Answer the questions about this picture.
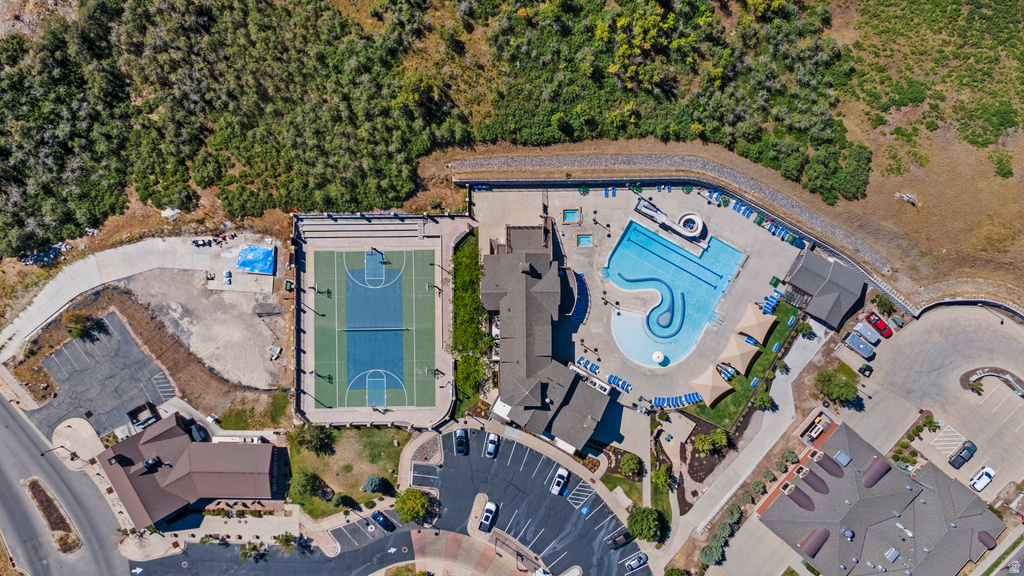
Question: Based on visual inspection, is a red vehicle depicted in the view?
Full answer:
Yes, there is a red vehicle in the image.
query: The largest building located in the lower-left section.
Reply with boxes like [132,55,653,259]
[97,413,275,530]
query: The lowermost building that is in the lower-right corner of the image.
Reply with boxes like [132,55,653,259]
[760,422,1007,576]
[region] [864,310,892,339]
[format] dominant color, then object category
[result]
red truck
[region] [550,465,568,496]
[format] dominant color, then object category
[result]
white vehicle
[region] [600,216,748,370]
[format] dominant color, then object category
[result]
blue swimming pool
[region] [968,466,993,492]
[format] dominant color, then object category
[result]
white car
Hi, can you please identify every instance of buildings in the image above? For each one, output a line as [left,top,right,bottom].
[97,413,275,530]
[481,216,576,433]
[785,238,864,327]
[760,422,1007,576]
[539,380,610,455]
